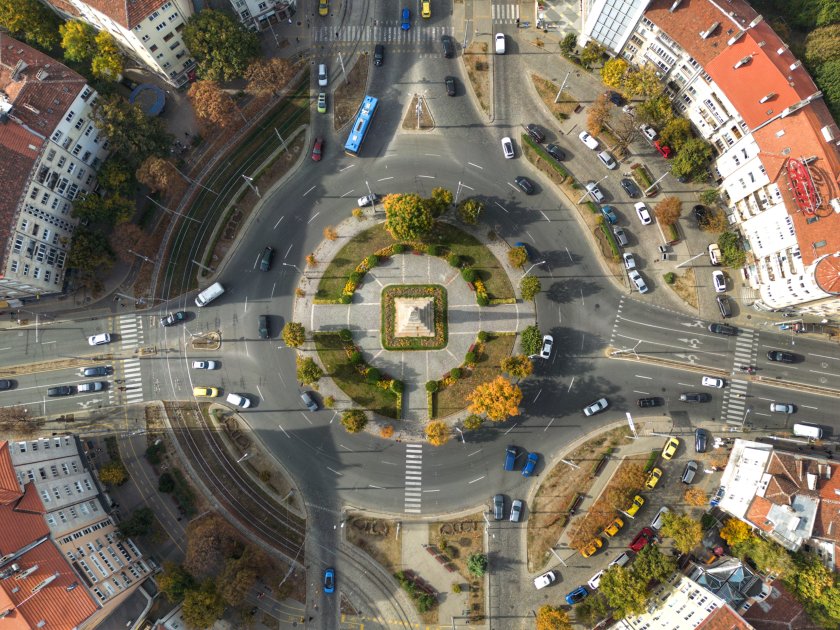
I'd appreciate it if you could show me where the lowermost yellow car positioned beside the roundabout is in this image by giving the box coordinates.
[194,386,219,399]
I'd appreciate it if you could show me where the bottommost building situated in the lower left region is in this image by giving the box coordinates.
[0,515,157,630]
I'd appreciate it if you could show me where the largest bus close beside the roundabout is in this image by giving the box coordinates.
[340,95,383,161]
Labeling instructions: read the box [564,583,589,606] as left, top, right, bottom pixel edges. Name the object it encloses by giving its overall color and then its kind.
blue car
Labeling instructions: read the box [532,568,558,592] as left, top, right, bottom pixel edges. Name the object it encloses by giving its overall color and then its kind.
white vehicle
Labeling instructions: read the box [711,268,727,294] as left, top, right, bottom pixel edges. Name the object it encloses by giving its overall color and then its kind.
white car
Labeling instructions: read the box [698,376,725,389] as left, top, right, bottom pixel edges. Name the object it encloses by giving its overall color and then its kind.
white vehicle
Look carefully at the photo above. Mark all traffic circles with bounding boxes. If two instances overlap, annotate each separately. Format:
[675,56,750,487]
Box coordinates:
[212,128,618,530]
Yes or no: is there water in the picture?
No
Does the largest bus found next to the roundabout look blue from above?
Yes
